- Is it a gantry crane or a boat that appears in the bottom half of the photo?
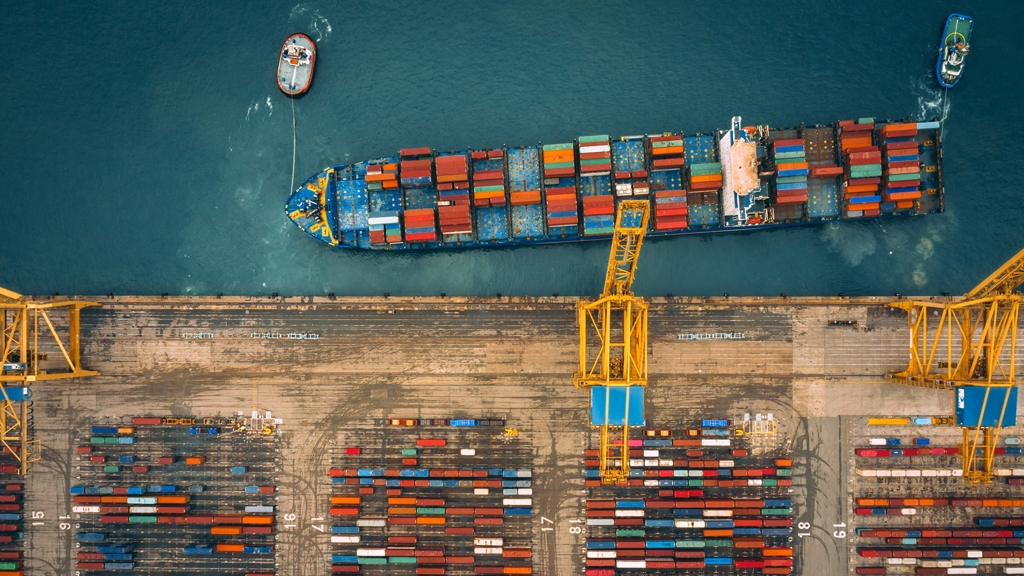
gantry crane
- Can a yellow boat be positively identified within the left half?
No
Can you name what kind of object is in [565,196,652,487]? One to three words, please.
container crane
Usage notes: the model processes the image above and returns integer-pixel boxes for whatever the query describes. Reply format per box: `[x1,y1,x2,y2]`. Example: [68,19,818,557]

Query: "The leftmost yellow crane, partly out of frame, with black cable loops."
[0,276,114,487]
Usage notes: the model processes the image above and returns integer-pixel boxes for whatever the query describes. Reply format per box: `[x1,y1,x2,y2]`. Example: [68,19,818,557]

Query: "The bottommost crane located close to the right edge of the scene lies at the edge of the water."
[880,244,1024,487]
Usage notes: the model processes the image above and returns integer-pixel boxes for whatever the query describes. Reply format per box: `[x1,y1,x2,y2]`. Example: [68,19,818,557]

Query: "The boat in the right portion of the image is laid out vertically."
[936,11,975,92]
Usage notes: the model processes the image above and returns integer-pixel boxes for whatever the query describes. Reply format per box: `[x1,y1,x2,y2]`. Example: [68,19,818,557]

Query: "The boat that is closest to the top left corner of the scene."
[276,33,319,97]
